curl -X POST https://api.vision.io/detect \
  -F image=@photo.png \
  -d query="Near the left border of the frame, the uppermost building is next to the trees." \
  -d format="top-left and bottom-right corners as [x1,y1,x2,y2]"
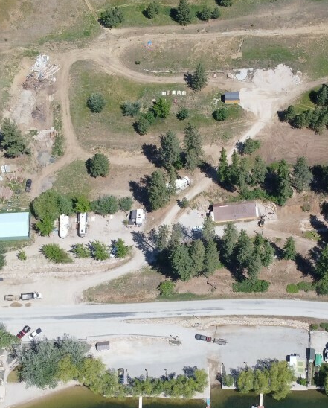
[0,213,32,243]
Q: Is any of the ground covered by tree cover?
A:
Yes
